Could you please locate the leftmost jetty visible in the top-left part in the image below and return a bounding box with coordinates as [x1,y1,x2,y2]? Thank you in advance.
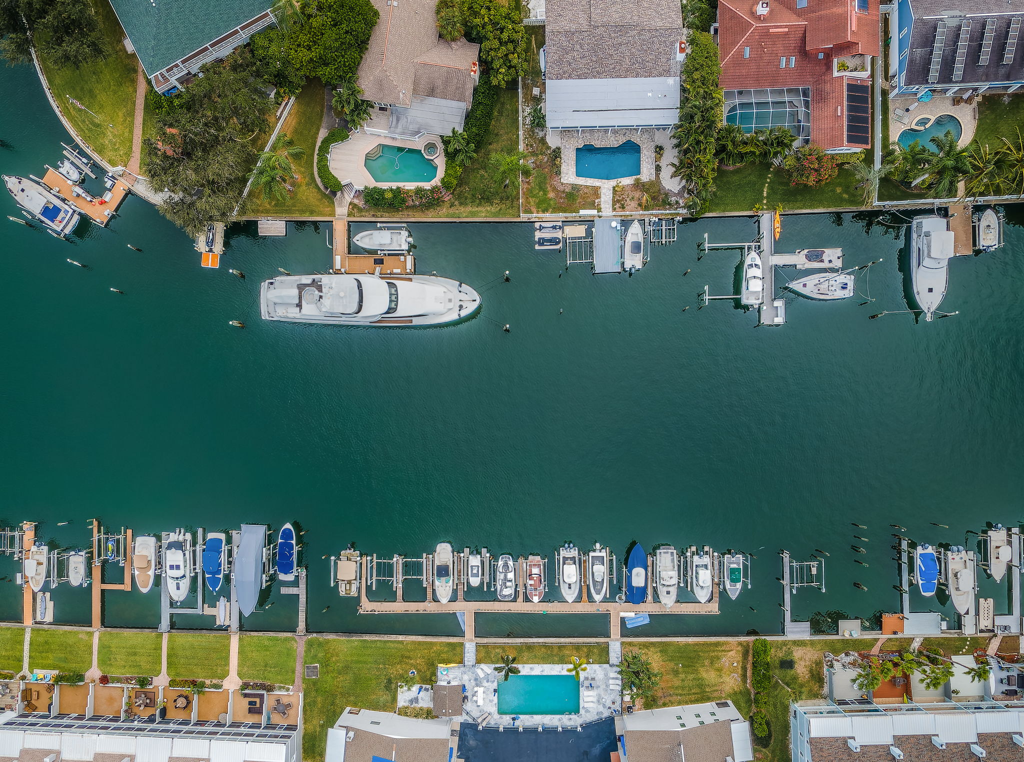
[42,169,133,227]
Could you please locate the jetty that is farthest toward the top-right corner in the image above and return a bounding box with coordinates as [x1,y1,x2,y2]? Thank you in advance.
[948,205,973,255]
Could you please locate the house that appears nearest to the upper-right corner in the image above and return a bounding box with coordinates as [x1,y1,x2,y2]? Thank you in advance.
[888,0,1024,103]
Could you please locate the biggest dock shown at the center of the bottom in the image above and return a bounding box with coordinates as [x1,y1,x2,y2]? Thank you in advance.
[359,552,720,638]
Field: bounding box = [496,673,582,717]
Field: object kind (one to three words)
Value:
swimming pool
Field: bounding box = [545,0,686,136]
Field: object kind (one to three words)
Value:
house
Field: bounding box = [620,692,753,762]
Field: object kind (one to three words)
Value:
building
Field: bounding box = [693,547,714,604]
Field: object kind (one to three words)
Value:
boat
